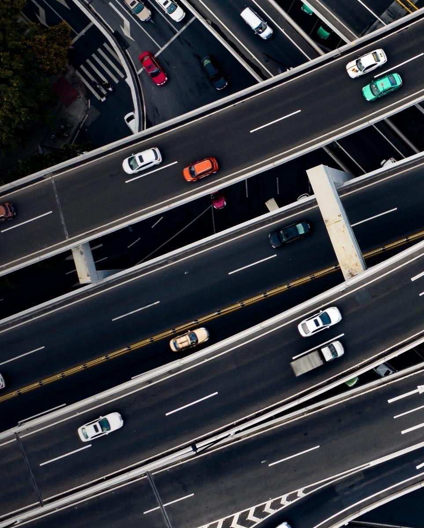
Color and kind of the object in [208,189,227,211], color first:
pink car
